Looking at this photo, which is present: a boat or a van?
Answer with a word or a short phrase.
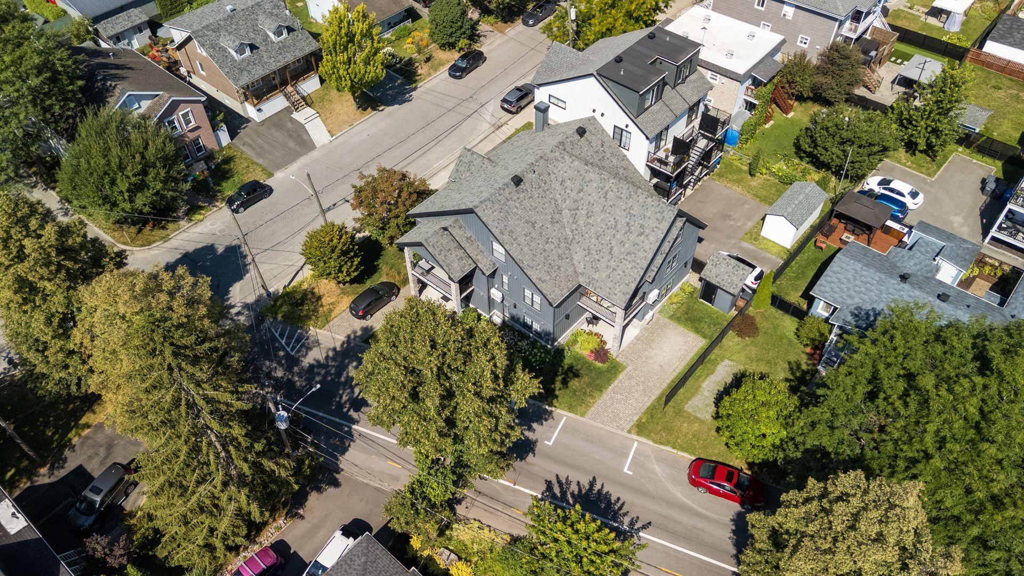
van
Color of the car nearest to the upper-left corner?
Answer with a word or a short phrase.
black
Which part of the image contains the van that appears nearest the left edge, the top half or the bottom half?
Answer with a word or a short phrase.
bottom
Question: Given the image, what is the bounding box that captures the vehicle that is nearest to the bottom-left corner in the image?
[67,464,142,532]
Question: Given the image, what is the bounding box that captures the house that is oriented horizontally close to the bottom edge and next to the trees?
[324,532,426,576]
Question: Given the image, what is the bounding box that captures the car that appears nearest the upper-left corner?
[224,176,270,211]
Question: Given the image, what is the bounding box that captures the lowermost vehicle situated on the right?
[690,460,768,510]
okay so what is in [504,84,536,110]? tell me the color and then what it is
gray car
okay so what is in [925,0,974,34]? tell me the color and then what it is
white gazebo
